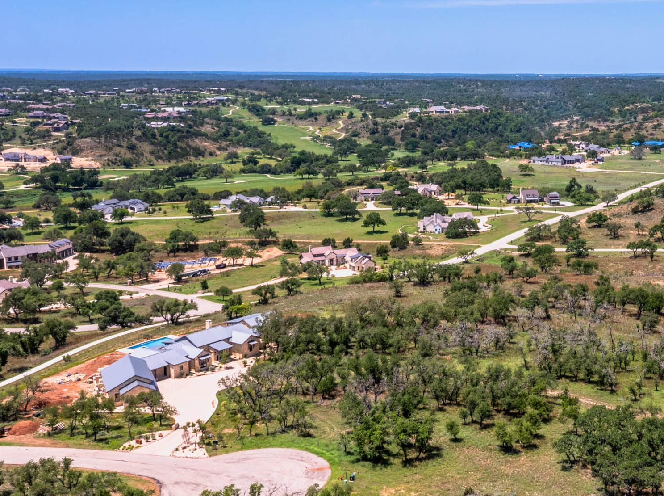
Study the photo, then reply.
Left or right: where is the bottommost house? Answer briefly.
left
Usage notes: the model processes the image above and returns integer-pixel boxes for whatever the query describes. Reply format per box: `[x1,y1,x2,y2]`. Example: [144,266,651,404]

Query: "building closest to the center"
[291,236,377,269]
